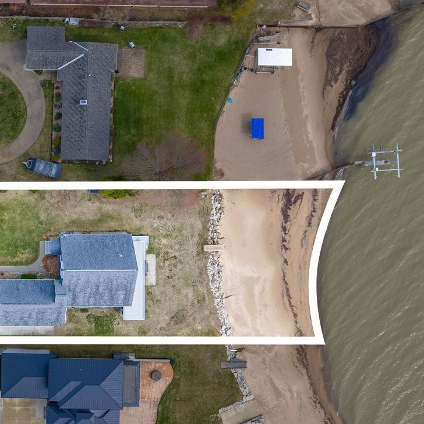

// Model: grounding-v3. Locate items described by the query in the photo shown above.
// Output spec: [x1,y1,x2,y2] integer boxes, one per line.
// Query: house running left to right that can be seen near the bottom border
[1,353,170,424]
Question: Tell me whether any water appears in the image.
Yes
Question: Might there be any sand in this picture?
Yes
